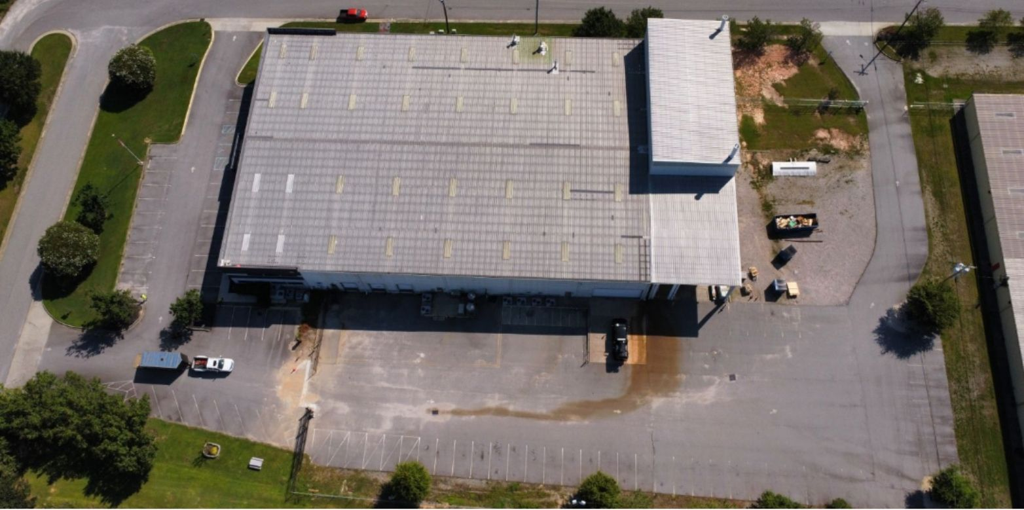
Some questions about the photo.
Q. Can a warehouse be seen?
Yes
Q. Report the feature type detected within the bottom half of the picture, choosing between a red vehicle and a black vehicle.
black vehicle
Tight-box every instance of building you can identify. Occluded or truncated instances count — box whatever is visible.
[962,94,1024,460]
[217,23,651,299]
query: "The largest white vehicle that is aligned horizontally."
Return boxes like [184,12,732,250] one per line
[190,357,235,373]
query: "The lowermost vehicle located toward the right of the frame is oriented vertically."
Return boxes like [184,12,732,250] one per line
[611,320,628,362]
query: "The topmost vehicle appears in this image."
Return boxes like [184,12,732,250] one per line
[339,7,369,22]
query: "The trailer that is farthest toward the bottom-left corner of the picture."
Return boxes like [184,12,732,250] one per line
[132,350,191,371]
